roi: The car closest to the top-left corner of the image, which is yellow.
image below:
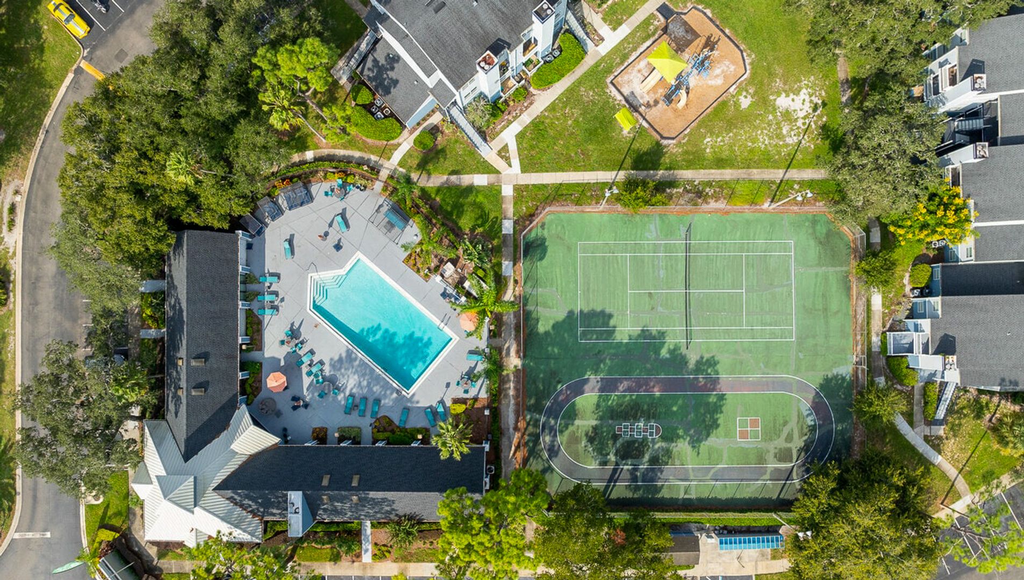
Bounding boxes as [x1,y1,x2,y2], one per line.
[46,0,93,42]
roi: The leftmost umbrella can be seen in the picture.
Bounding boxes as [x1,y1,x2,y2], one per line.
[269,372,289,391]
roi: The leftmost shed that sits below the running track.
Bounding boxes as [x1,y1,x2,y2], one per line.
[659,531,699,565]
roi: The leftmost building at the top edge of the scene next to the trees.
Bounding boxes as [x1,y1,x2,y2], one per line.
[357,0,609,129]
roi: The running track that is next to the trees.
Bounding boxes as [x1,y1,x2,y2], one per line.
[541,376,835,484]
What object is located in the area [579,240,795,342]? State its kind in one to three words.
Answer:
tennis court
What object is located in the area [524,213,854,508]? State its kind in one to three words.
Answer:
sports court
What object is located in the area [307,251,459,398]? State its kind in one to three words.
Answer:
swimming pool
